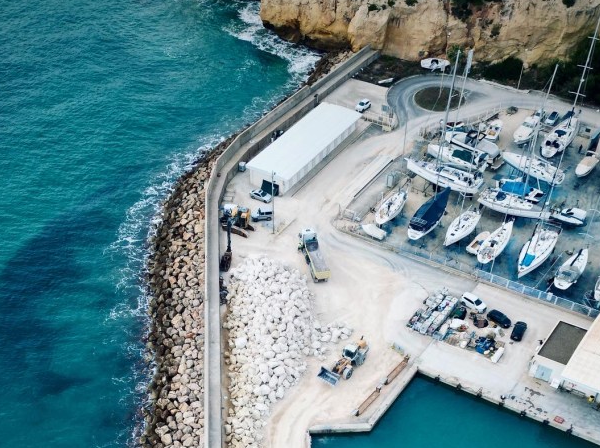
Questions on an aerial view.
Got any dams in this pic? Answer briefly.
No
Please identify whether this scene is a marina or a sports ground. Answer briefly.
marina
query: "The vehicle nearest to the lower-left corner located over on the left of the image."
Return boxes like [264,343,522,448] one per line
[221,205,258,263]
